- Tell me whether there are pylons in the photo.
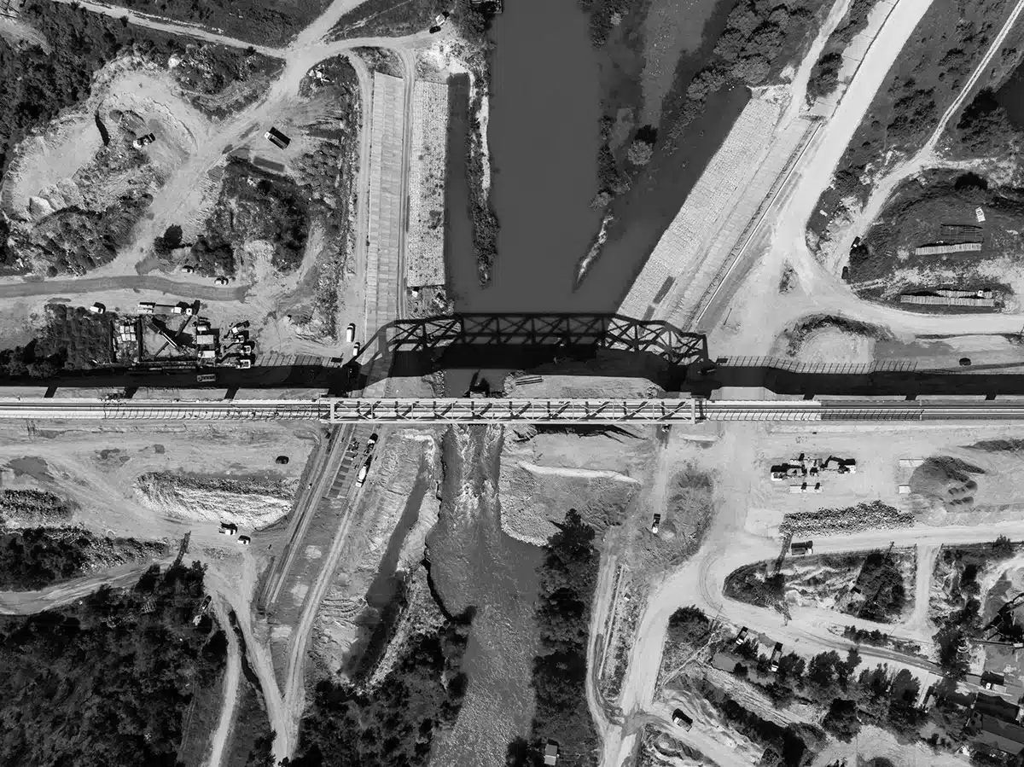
Yes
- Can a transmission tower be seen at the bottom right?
Yes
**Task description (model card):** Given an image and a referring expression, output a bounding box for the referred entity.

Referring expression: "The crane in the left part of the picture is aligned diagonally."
[138,318,192,361]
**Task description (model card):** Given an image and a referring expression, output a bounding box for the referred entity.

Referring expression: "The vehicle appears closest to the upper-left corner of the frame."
[132,133,158,151]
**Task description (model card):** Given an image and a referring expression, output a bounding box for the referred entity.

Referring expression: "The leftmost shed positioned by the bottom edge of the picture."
[542,737,559,762]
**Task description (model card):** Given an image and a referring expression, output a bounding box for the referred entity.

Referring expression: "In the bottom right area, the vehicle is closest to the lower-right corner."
[982,677,1005,694]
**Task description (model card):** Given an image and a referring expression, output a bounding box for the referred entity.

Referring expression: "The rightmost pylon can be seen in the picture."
[762,587,803,620]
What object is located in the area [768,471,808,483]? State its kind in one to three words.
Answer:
vehicle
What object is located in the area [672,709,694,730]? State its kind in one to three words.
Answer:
truck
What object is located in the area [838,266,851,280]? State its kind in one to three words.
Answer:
vehicle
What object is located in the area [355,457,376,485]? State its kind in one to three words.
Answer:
truck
